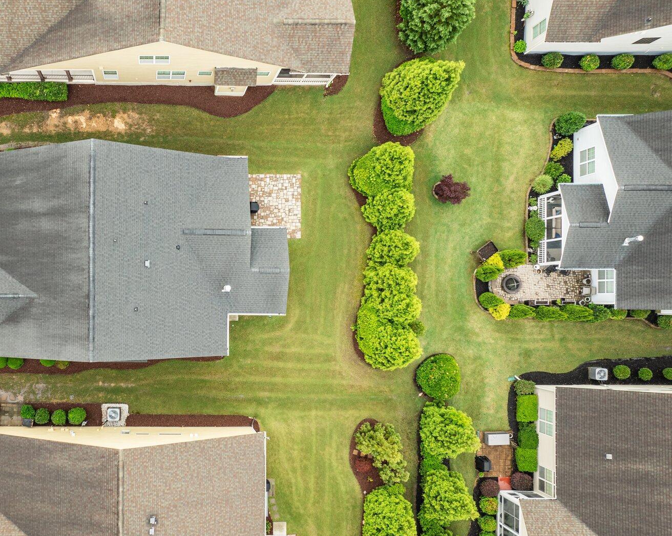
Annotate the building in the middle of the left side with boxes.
[0,139,289,362]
